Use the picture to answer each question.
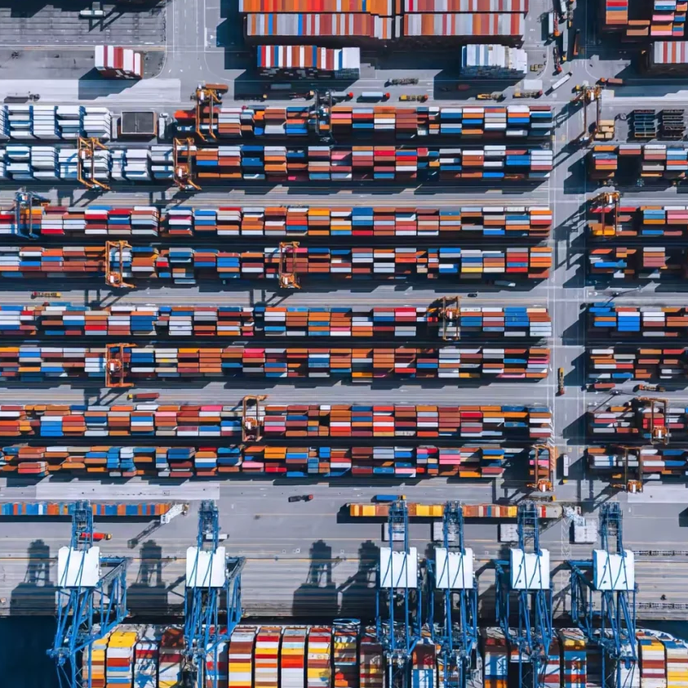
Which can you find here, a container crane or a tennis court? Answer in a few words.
container crane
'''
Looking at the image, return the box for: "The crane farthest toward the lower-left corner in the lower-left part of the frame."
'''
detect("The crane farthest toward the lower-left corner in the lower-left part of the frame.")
[42,498,133,688]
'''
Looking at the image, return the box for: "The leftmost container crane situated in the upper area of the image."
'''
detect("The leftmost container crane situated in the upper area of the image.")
[13,191,49,245]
